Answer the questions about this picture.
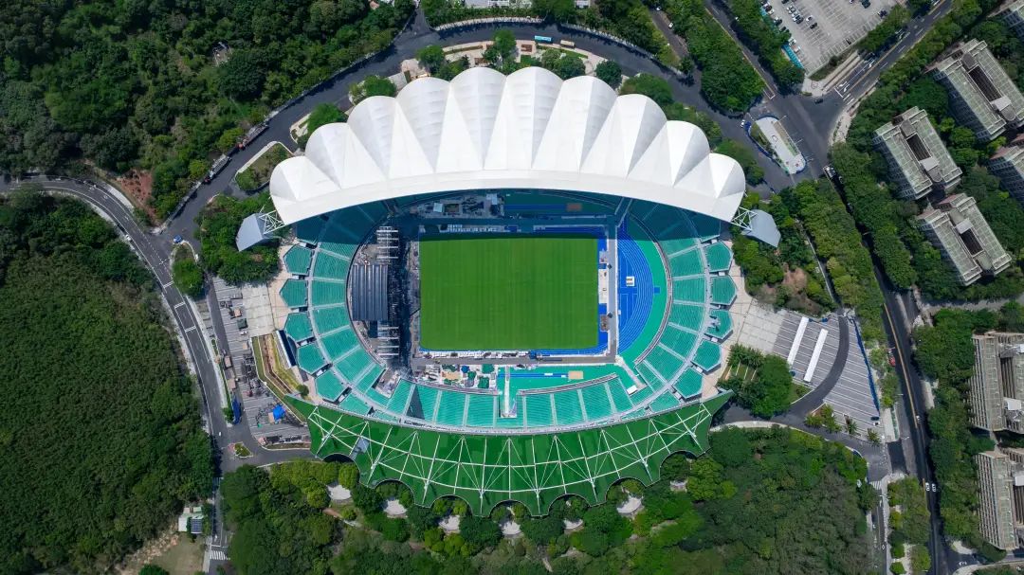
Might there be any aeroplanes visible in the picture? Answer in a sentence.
No, this view has no aeroplane in it.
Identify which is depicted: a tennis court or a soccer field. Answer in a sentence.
I can see a soccer field in this picture.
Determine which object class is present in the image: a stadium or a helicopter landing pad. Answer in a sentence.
Visible in the photo is a stadium.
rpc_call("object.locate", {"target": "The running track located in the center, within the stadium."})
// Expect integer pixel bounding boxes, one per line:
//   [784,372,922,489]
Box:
[372,225,659,358]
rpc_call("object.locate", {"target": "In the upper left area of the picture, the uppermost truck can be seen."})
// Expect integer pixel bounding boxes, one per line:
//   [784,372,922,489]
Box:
[240,123,271,145]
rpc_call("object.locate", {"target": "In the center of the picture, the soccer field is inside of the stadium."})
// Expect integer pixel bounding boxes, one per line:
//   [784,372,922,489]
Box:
[420,234,598,352]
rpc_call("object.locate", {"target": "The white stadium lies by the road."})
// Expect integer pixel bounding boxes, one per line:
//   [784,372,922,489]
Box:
[236,67,781,516]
